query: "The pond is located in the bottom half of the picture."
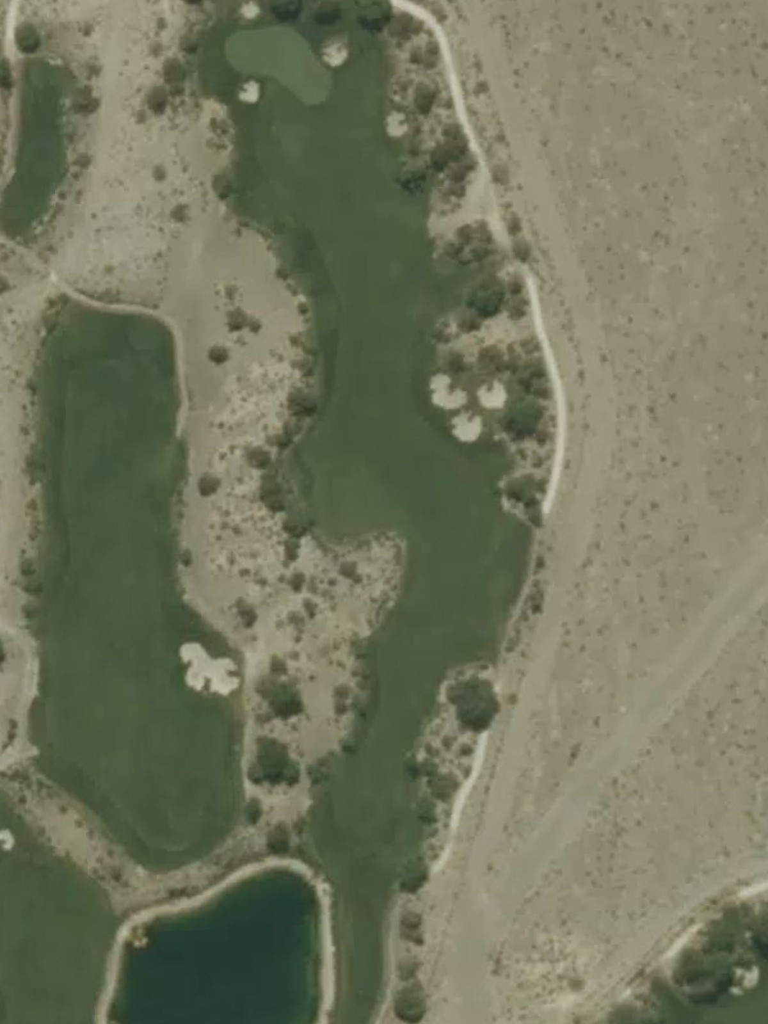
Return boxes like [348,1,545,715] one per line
[110,868,319,1024]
